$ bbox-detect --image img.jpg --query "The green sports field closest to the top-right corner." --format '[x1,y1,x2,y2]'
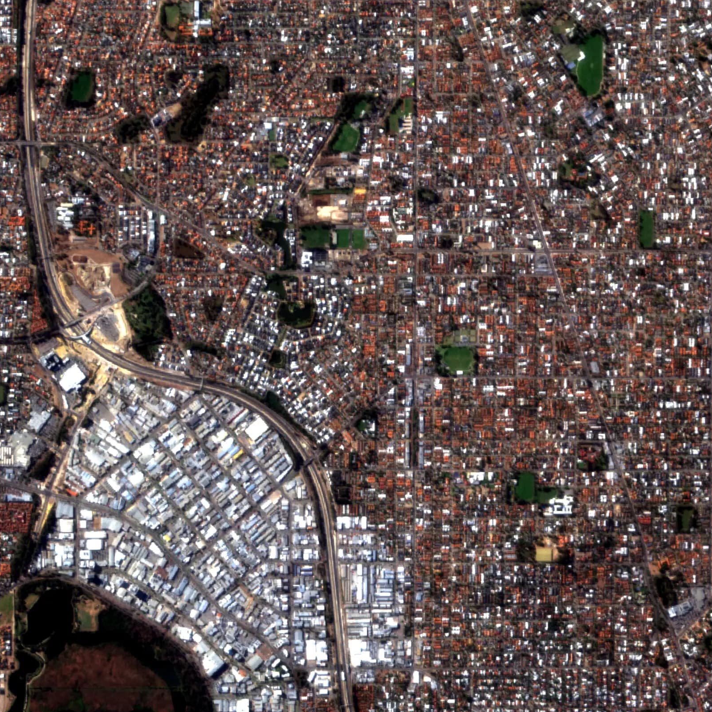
[576,33,603,96]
